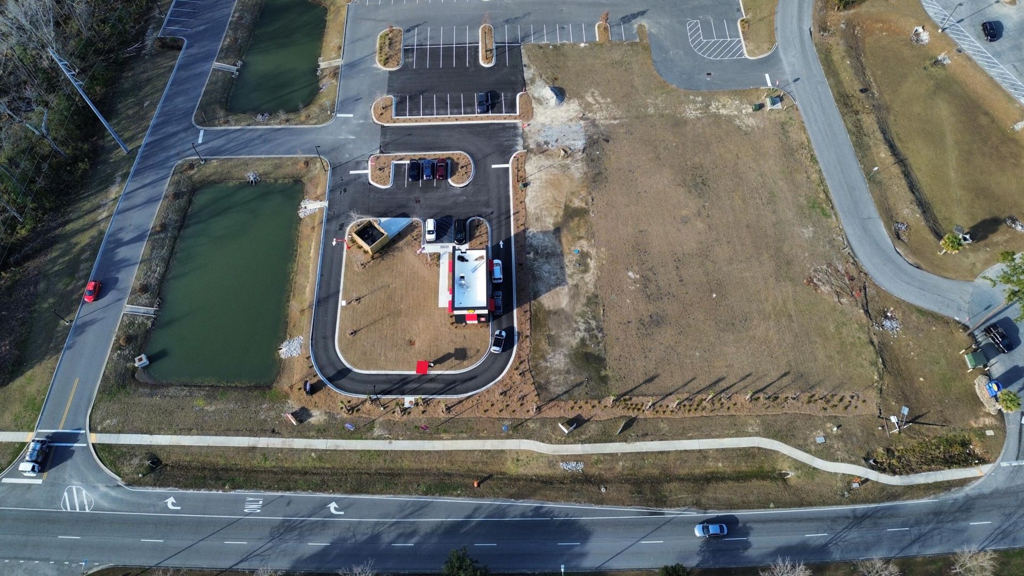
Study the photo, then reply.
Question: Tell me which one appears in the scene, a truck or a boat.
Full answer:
It is a truck that can be seen here.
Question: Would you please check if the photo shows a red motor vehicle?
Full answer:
Yes, I can see a red motor vehicle in this picture.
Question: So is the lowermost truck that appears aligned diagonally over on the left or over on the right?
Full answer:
It is on the left.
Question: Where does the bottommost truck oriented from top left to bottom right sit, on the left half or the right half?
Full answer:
The bottommost truck oriented from top left to bottom right appears in the right half of the scene.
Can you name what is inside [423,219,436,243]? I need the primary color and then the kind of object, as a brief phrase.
white vehicle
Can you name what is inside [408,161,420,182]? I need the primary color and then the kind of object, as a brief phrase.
black vehicle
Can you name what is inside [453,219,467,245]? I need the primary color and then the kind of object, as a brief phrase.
black car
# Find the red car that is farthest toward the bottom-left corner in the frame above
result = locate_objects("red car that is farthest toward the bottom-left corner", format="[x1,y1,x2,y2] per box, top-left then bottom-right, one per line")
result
[82,278,102,304]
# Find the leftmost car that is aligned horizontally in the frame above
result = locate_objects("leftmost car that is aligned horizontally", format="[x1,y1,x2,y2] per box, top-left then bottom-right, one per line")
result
[695,523,730,540]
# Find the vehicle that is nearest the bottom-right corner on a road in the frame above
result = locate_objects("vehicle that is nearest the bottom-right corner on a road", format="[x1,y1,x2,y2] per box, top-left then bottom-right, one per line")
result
[985,321,1018,356]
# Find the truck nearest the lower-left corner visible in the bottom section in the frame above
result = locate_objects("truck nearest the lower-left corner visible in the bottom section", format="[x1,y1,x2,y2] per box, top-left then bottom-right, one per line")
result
[17,430,59,480]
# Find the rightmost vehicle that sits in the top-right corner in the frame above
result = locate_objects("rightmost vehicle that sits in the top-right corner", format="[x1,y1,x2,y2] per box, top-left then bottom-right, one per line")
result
[984,21,1001,40]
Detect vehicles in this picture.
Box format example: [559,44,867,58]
[985,321,1018,356]
[408,161,420,182]
[436,160,447,180]
[695,523,730,540]
[984,21,1001,40]
[422,161,433,180]
[491,329,507,357]
[82,278,102,304]
[17,430,59,480]
[423,219,436,243]
[492,262,504,286]
[478,93,489,114]
[453,219,467,245]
